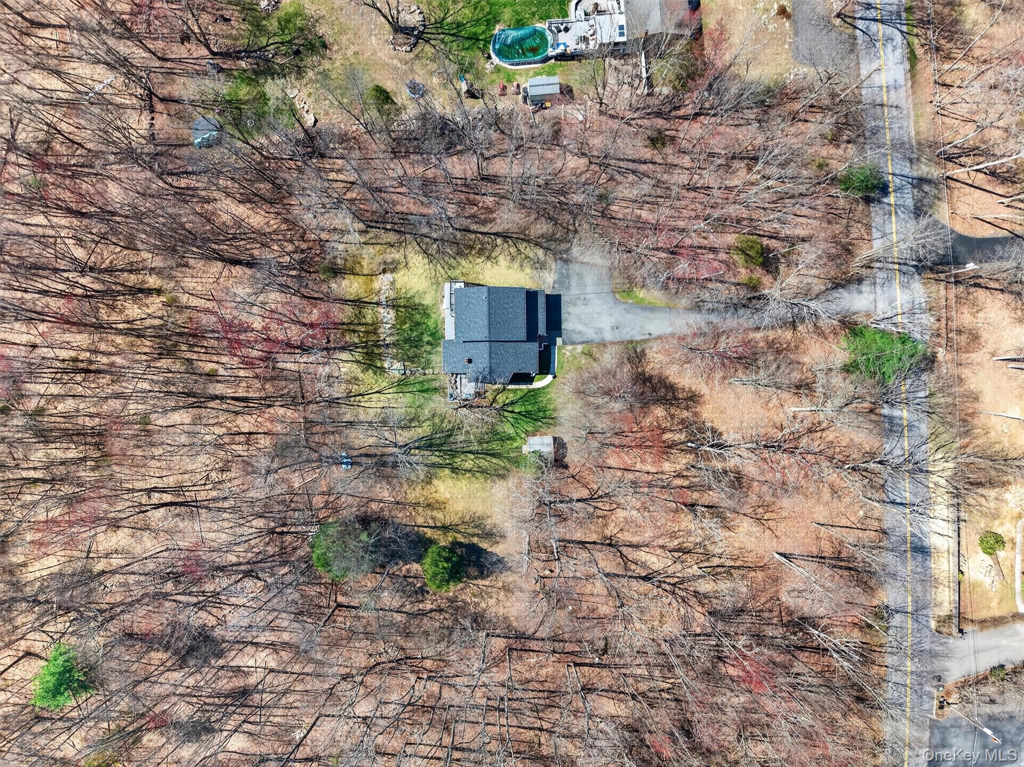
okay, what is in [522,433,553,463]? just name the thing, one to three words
shed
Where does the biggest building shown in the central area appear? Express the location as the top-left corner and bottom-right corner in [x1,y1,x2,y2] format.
[441,280,551,402]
